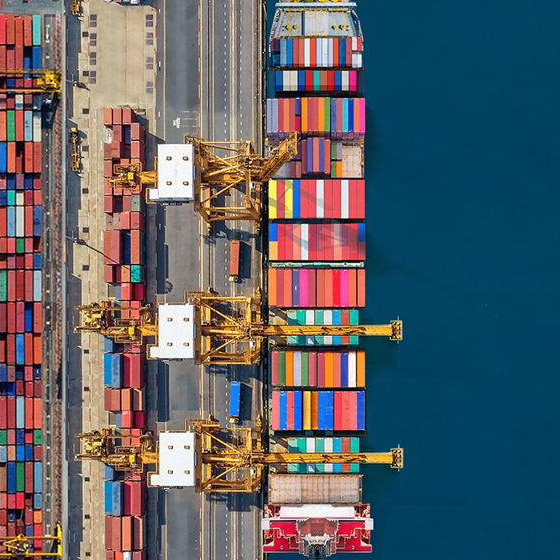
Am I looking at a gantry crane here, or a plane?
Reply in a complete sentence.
Visible in the photo is a gantry crane.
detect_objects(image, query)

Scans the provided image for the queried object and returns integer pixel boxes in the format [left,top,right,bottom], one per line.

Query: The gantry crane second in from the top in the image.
[105,129,298,223]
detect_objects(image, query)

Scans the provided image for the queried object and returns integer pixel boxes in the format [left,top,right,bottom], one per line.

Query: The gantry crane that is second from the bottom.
[73,403,403,495]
